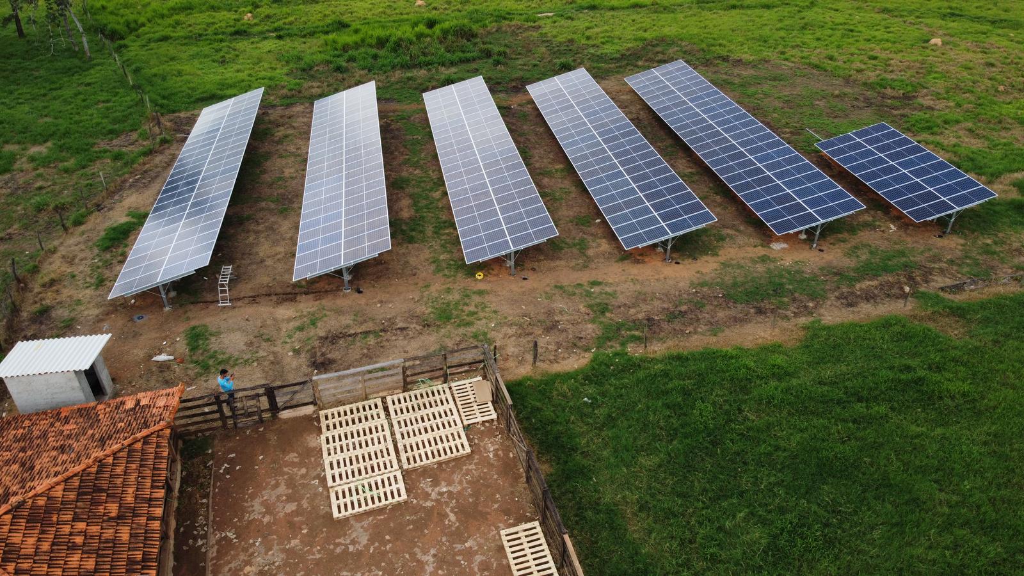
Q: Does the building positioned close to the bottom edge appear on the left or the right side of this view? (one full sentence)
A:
The building positioned close to the bottom edge sits on the left side.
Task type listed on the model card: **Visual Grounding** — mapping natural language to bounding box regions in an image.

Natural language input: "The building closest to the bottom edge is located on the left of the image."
[0,385,187,576]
